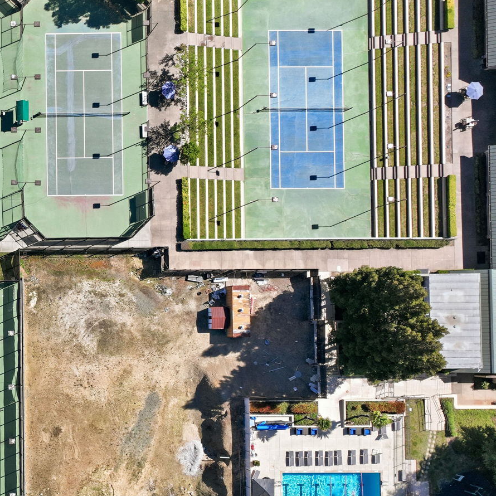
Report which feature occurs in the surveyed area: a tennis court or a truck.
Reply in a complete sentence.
It is a tennis court that can be seen here.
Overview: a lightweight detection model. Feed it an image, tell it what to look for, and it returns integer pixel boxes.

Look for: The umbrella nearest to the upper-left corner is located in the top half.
[159,81,177,99]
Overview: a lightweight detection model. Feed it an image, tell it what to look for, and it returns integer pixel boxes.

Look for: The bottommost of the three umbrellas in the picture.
[162,145,178,162]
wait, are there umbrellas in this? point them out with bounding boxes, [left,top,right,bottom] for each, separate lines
[159,81,177,99]
[460,81,483,99]
[162,145,178,162]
